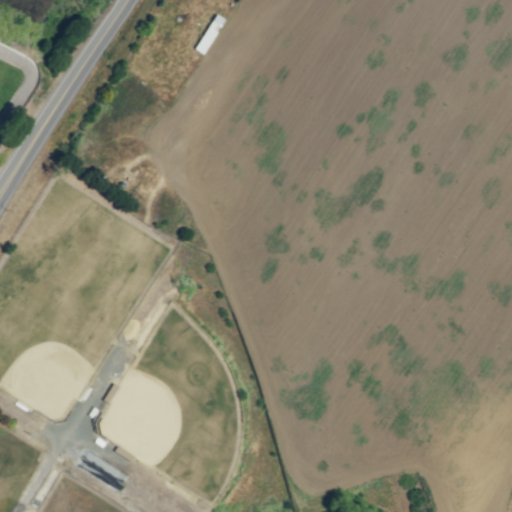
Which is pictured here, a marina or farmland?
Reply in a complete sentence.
The picture captures farmland.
